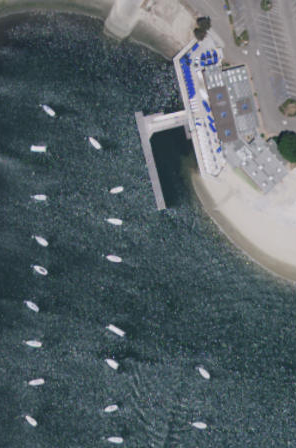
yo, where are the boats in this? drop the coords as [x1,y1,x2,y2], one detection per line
[86,136,101,150]
[28,378,45,384]
[190,422,206,428]
[40,104,55,117]
[24,414,38,427]
[104,437,124,443]
[104,404,118,411]
[23,300,39,312]
[106,324,124,336]
[110,185,123,192]
[104,218,122,224]
[196,366,210,380]
[22,340,41,346]
[32,194,46,200]
[31,264,48,276]
[102,358,119,370]
[104,256,122,262]
[28,146,46,152]
[32,235,47,246]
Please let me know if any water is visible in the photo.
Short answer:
Yes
